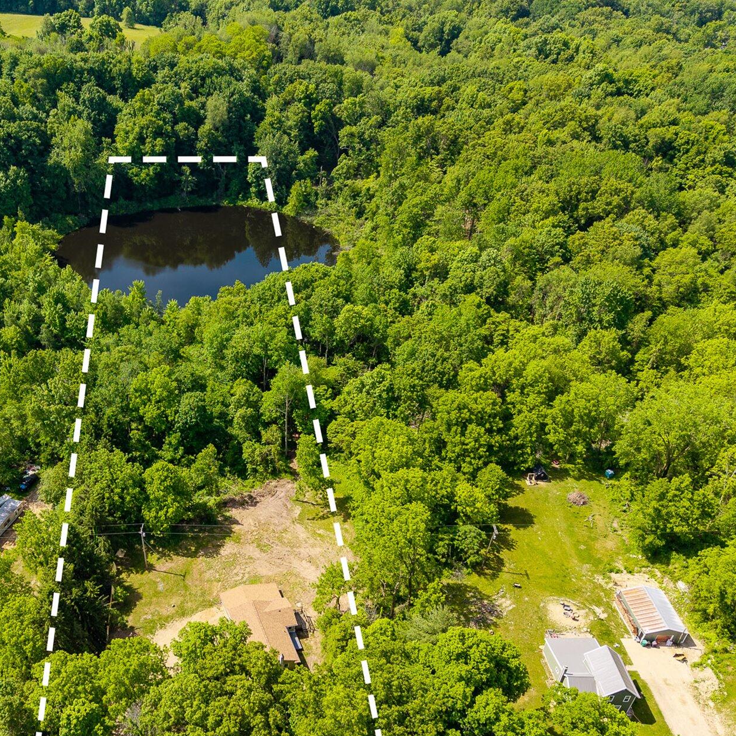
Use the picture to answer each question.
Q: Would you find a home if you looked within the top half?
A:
No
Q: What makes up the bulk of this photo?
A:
trees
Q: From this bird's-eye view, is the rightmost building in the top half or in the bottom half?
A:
bottom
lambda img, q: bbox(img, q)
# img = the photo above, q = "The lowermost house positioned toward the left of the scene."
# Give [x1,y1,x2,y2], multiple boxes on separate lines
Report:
[219,582,305,678]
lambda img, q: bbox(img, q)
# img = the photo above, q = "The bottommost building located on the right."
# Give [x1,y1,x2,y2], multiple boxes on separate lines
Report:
[542,638,641,717]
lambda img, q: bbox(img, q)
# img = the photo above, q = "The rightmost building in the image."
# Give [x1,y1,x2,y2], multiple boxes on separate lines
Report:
[619,585,686,645]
